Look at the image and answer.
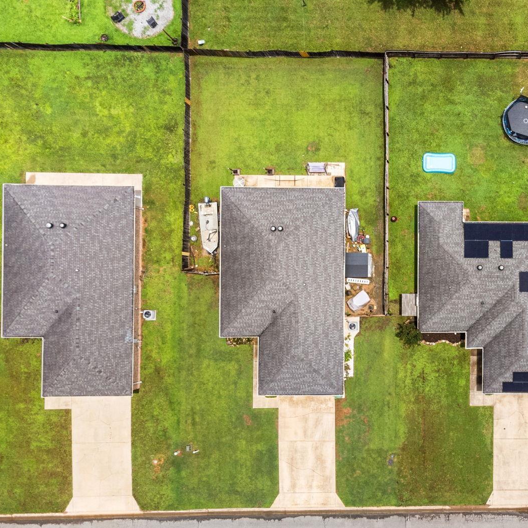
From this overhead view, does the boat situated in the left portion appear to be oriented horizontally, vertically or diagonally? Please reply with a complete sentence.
From this overhead view, the boat situated in the left portion appears to run vertically.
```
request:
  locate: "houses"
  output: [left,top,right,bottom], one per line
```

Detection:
[219,186,346,396]
[1,184,147,397]
[417,201,528,395]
